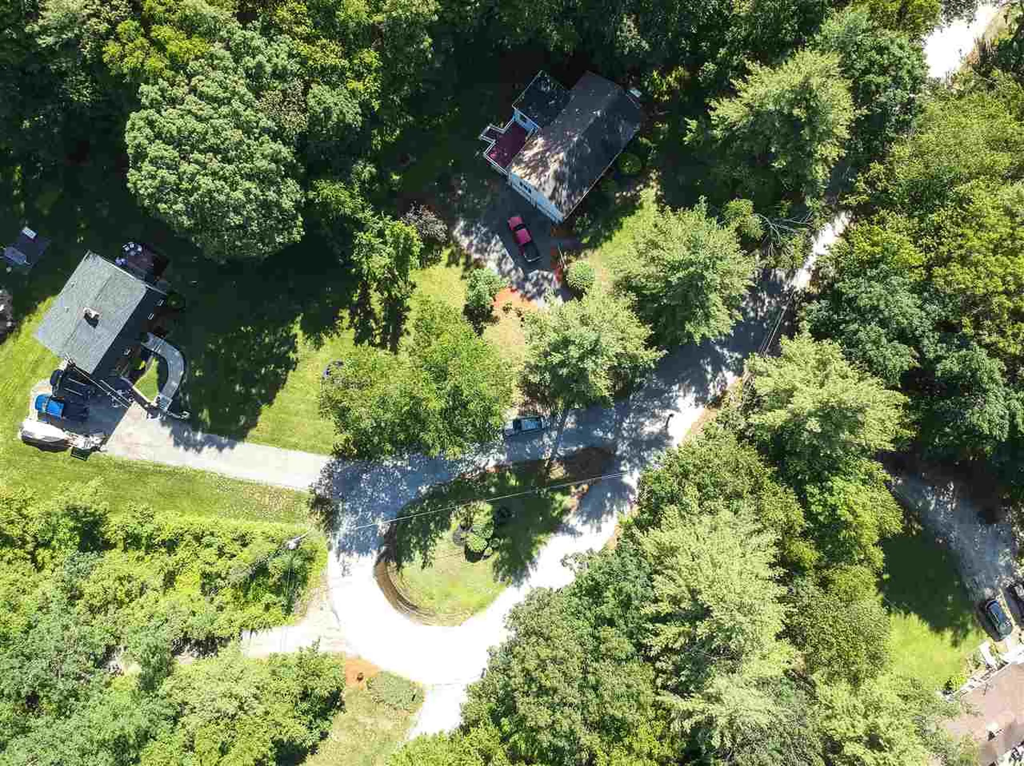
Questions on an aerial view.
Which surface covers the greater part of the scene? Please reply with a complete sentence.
Most of the picture is covered by trees.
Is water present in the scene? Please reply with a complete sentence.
No, the picture contains no water.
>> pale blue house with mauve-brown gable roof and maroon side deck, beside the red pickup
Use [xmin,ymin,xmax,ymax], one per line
[481,69,643,223]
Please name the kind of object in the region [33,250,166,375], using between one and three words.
house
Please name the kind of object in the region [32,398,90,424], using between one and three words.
truck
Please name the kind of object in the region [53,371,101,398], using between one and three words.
car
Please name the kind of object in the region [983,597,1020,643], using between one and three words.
car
